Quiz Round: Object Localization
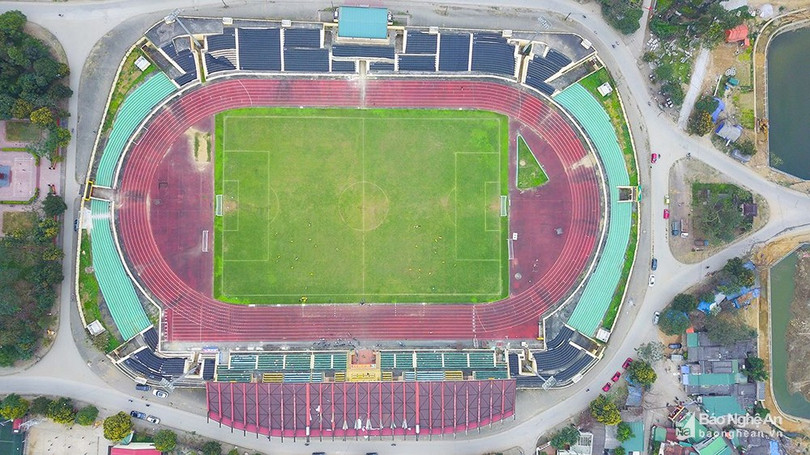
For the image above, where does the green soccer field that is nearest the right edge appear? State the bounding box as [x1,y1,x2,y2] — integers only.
[213,108,509,305]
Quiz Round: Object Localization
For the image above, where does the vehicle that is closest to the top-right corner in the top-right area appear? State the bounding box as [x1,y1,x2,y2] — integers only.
[757,112,770,131]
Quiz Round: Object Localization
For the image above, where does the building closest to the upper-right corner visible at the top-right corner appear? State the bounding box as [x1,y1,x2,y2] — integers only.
[721,25,752,51]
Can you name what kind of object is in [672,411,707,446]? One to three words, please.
house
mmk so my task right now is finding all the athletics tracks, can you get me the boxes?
[116,79,600,344]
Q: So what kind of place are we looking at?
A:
sports ground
